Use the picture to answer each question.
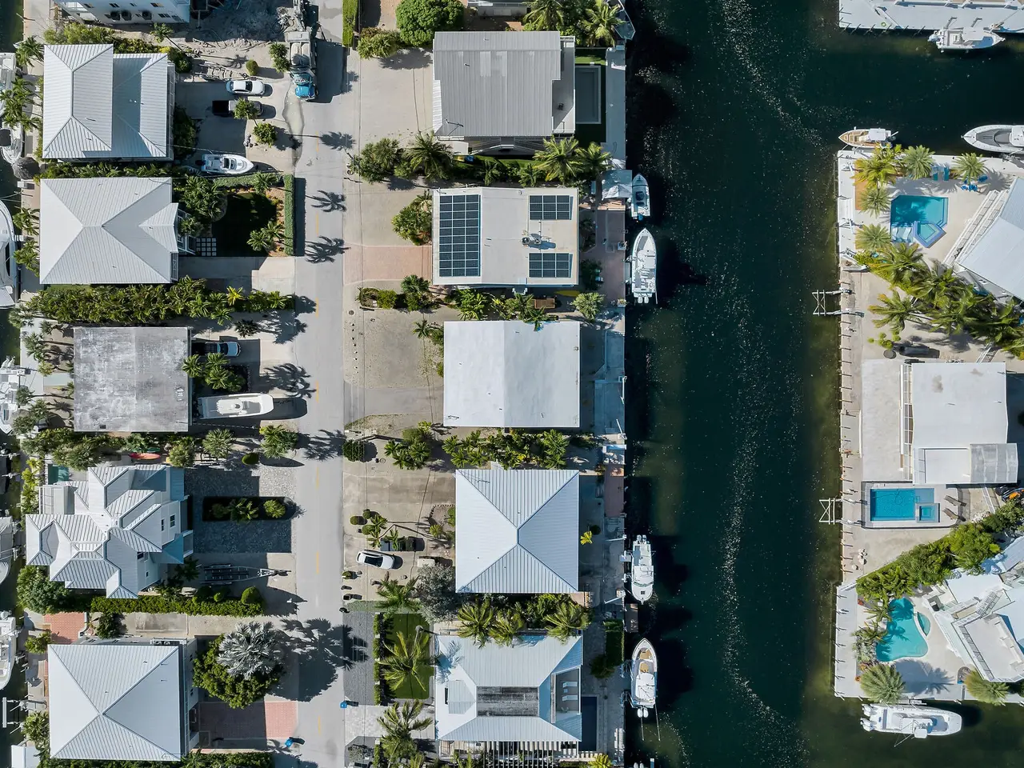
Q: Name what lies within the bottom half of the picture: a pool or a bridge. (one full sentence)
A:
What appears within the bottom half of the picture is a pool.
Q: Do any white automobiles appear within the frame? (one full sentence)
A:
Yes, there's a white automobile here.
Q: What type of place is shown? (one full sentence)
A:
What you see here is a residential area.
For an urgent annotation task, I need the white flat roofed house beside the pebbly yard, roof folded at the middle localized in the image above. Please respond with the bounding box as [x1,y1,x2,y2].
[443,322,580,427]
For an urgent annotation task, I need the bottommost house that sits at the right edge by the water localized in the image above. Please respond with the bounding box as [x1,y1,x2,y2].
[922,524,1024,683]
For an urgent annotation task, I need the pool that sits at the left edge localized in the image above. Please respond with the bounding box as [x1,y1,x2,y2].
[44,462,70,482]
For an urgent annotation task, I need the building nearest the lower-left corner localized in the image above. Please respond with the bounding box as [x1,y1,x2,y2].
[48,635,198,762]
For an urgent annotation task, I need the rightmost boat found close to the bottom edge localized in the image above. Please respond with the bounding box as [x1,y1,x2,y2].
[863,707,968,743]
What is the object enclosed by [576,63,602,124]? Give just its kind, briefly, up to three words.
swimming pool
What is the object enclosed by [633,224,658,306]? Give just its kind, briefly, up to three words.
boat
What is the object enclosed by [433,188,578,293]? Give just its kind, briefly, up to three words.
house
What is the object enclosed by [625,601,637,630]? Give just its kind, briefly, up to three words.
pier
